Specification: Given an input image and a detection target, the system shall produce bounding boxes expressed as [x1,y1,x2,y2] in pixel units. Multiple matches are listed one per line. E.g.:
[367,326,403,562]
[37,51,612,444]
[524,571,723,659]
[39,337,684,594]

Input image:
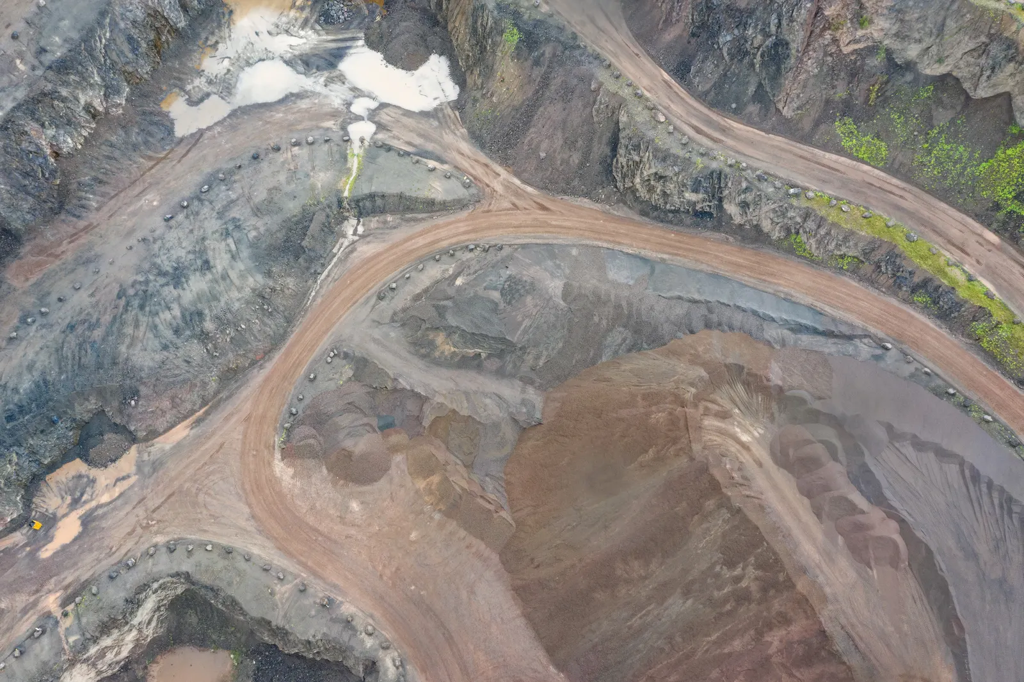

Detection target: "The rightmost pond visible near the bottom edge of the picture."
[148,645,235,682]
